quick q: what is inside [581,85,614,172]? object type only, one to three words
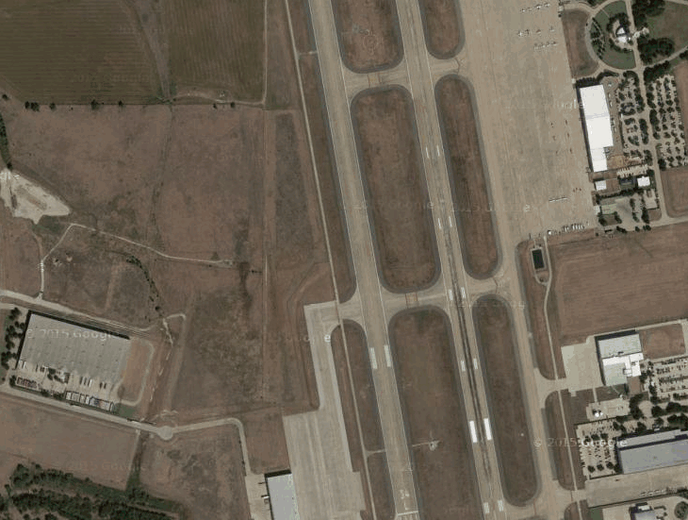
hangar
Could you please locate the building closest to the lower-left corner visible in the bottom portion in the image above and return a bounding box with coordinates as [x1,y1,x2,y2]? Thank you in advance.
[19,314,130,382]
